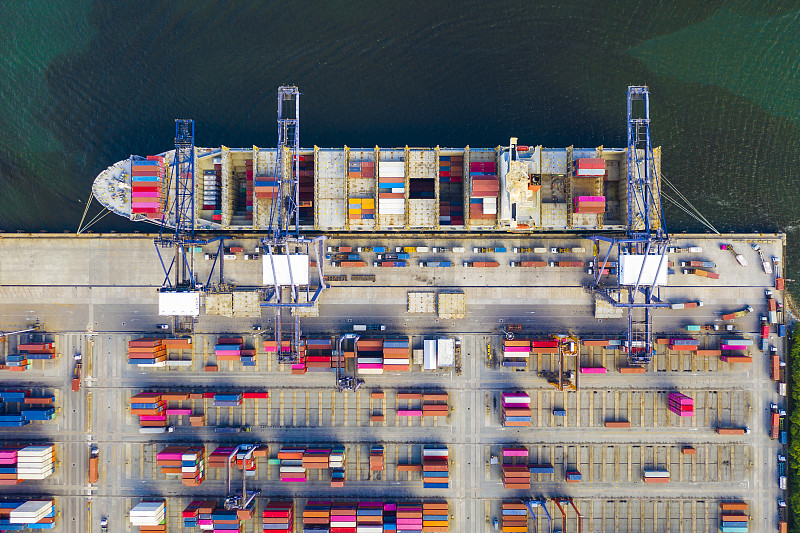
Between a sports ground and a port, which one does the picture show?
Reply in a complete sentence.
The picture captures a port.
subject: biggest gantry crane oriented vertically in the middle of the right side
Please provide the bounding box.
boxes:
[584,84,673,365]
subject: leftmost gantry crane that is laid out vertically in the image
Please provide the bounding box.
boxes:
[155,117,238,334]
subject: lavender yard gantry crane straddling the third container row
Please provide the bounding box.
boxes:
[227,441,259,512]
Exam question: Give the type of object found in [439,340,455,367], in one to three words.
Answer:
shed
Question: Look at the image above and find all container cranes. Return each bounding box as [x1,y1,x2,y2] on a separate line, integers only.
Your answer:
[338,334,362,399]
[155,117,238,334]
[227,441,259,512]
[584,84,673,365]
[523,498,555,533]
[259,86,335,363]
[546,332,581,392]
[552,496,586,533]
